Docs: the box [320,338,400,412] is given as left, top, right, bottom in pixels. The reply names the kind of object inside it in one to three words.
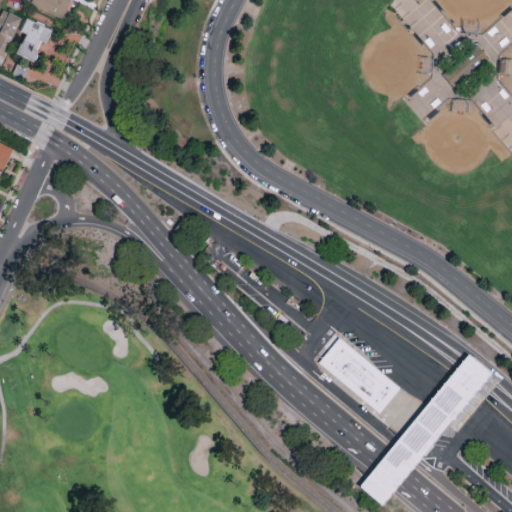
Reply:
building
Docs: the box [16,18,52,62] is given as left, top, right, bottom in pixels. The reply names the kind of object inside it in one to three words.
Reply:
house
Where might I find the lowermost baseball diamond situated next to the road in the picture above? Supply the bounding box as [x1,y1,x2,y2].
[345,99,512,305]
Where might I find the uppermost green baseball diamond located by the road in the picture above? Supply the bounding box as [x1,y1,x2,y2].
[255,0,434,190]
